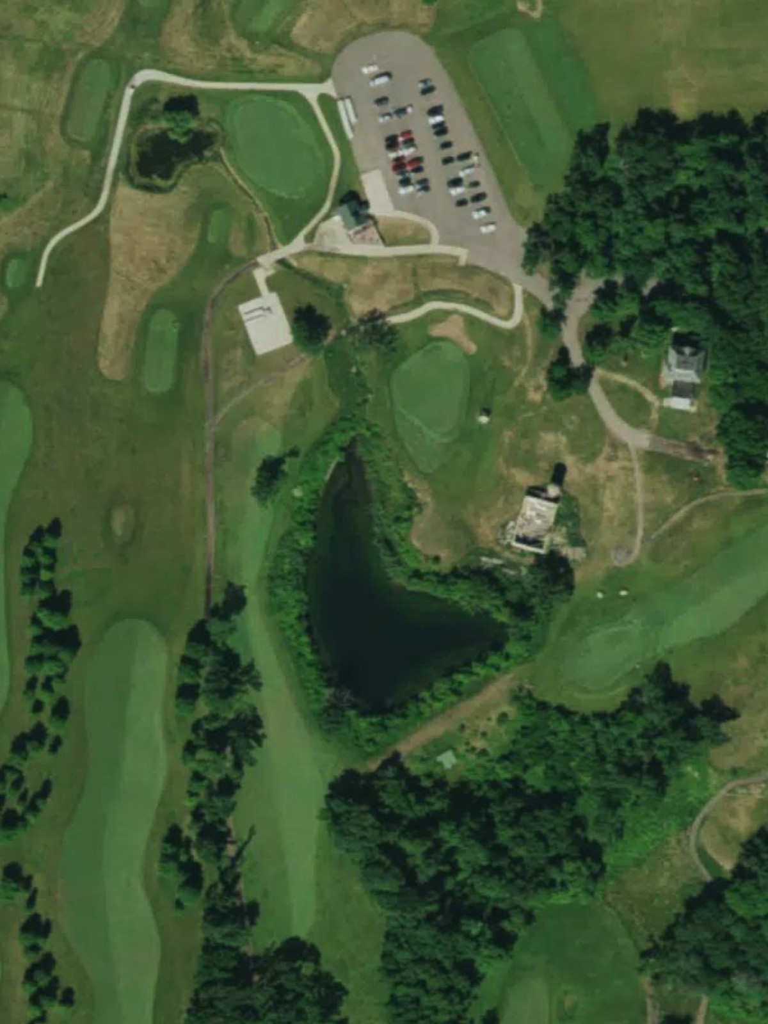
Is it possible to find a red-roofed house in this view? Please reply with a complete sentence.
No, there isn't any red-roofed house down there.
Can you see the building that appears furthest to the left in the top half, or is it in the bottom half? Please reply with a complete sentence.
You can find the building that appears furthest to the left in the top half.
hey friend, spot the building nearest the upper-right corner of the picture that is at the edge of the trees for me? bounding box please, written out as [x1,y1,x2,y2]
[664,347,706,413]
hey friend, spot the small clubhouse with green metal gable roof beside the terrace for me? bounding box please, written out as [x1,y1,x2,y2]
[339,198,370,234]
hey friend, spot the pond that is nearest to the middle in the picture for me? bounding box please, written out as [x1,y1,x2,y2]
[307,436,509,711]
